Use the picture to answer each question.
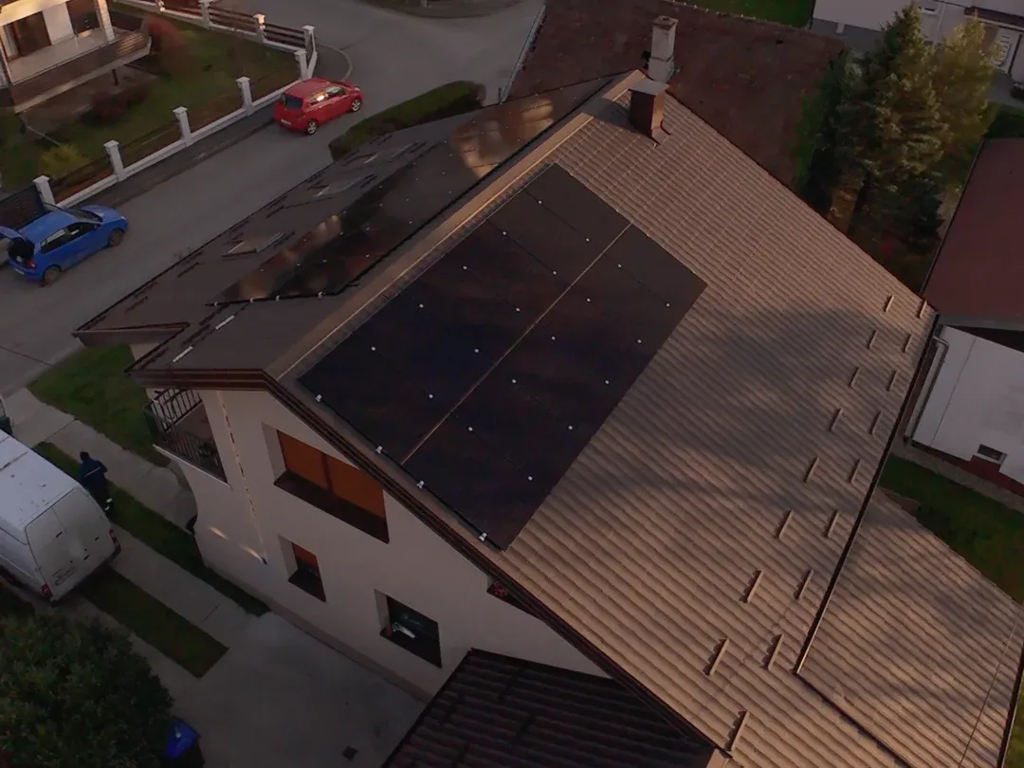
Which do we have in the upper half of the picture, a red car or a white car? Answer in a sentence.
It is a red car that can be seen in the upper half of the picture.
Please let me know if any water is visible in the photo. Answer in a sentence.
No, there's no water in this view.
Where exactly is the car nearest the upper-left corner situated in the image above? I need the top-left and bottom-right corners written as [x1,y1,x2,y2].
[0,210,121,283]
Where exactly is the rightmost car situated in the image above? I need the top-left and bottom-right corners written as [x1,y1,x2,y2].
[274,79,360,131]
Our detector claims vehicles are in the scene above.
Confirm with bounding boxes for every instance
[274,79,360,131]
[0,442,128,604]
[0,210,121,283]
